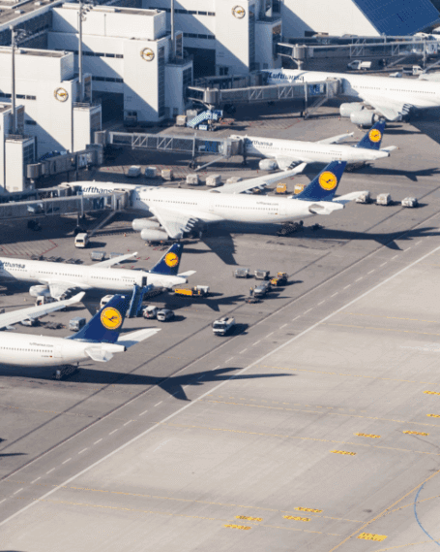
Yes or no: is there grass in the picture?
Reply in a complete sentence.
No, the picture contains no grass.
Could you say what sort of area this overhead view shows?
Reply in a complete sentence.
This looks like an airport.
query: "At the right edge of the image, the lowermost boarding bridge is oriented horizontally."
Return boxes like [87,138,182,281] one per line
[270,35,437,69]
